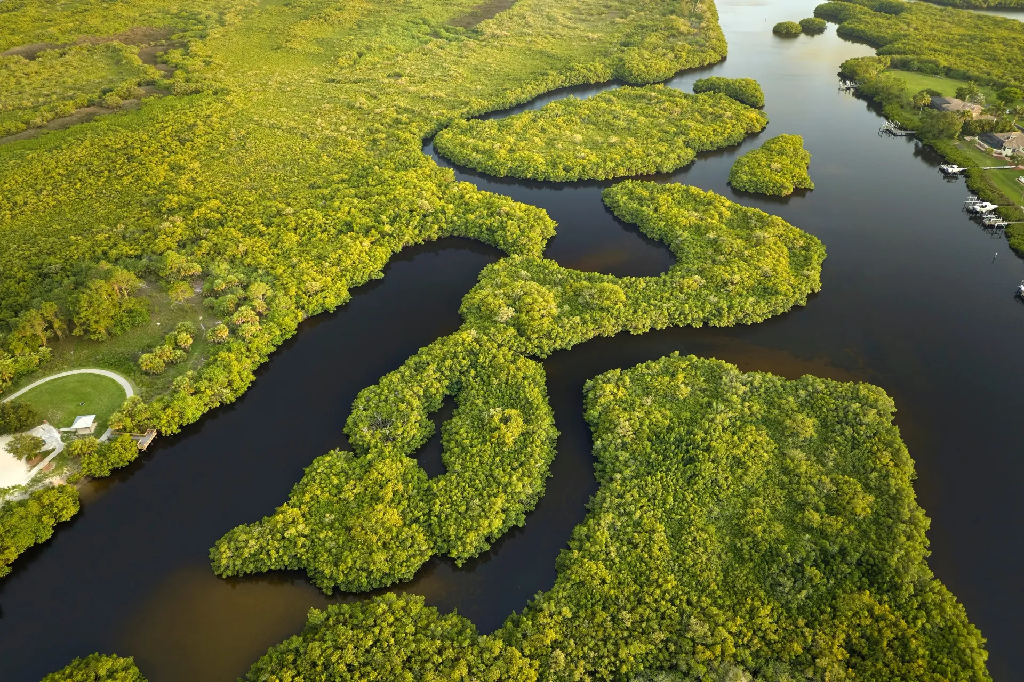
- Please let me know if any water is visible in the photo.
Yes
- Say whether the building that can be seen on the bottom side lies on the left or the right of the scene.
left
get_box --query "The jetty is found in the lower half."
[104,430,158,454]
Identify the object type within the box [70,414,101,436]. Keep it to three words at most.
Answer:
building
